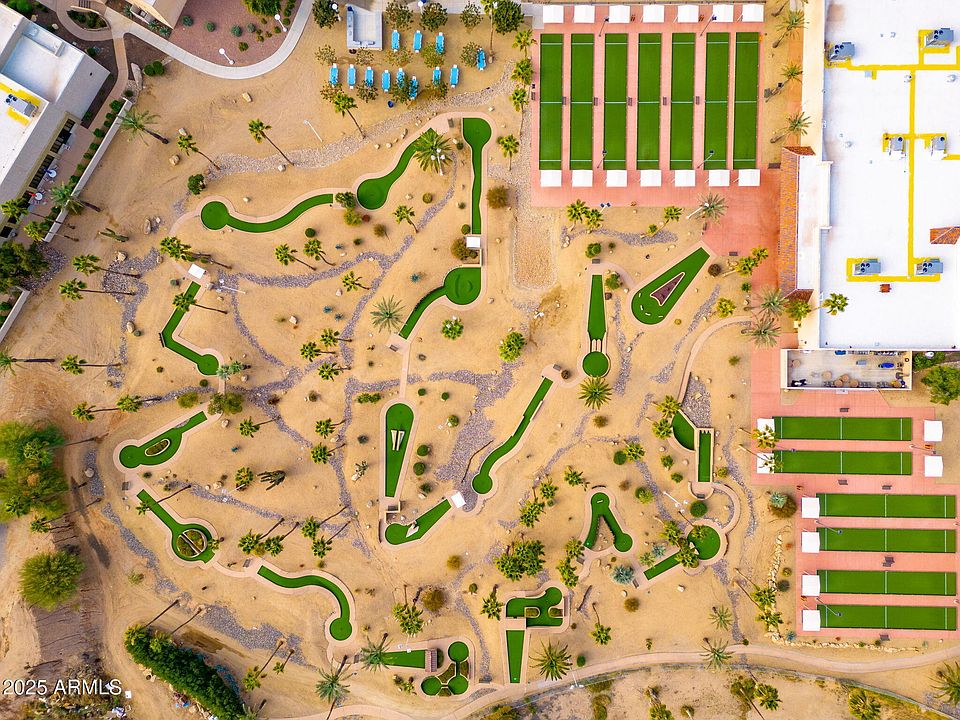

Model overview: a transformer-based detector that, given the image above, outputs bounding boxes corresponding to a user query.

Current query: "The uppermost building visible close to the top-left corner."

[123,0,188,35]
